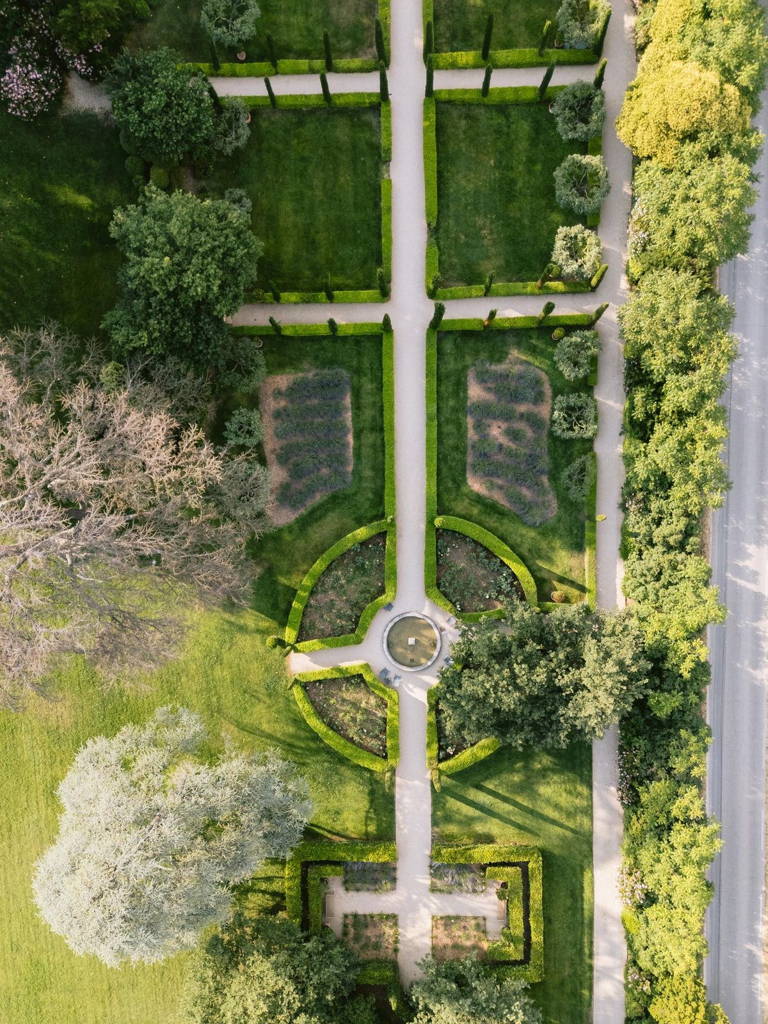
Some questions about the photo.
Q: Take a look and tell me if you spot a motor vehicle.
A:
No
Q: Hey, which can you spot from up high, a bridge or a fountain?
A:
fountain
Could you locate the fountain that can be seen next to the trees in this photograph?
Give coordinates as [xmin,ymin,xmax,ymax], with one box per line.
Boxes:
[382,612,442,673]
